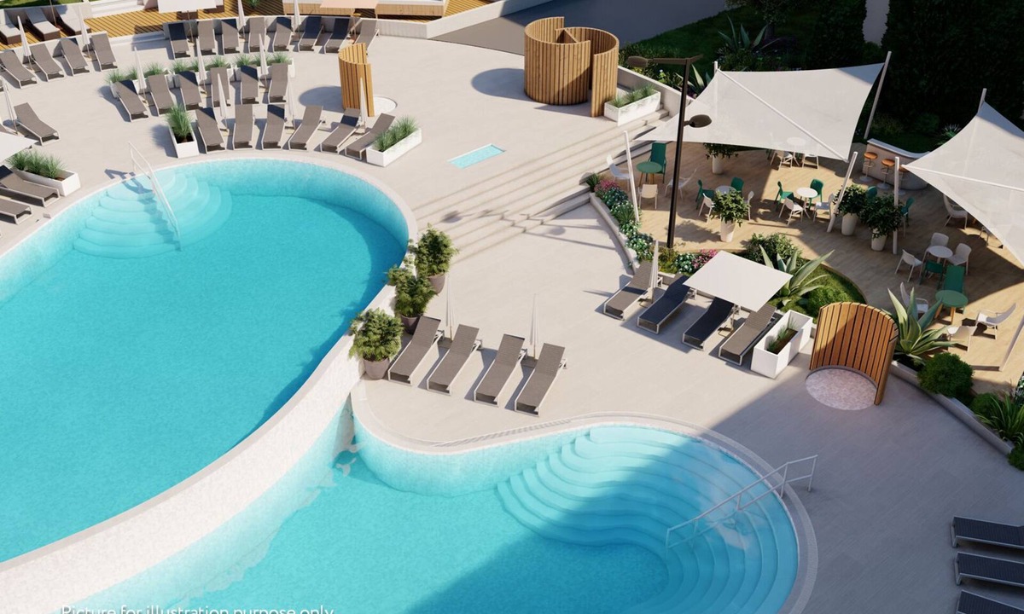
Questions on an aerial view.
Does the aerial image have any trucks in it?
No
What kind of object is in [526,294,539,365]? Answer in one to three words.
umbrella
